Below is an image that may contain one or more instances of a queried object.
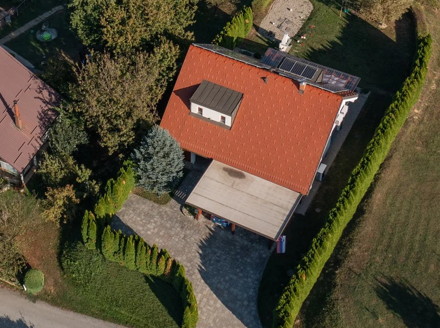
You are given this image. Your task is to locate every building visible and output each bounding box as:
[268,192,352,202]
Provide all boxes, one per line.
[0,46,72,204]
[159,44,359,207]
